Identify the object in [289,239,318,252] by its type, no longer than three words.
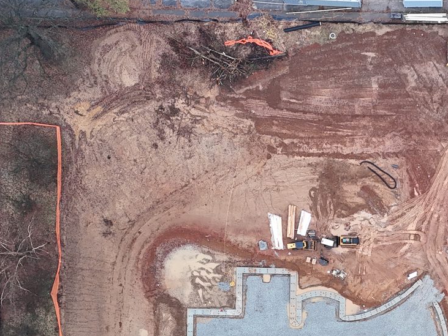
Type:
vehicle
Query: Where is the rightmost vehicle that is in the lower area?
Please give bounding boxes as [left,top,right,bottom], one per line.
[335,234,357,247]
